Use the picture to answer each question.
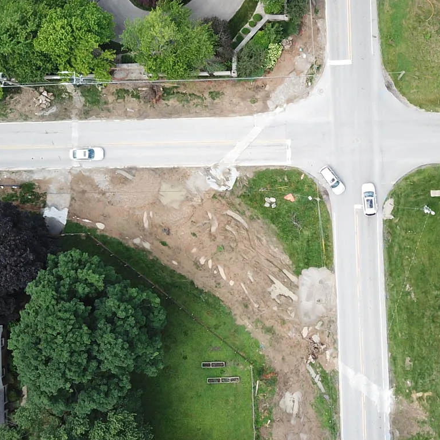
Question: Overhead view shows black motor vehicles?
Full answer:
No, there isn't any black motor vehicle down there.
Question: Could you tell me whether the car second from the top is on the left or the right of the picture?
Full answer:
The car second from the top sits on the right side.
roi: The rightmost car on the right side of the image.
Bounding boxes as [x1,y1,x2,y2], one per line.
[361,183,378,215]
